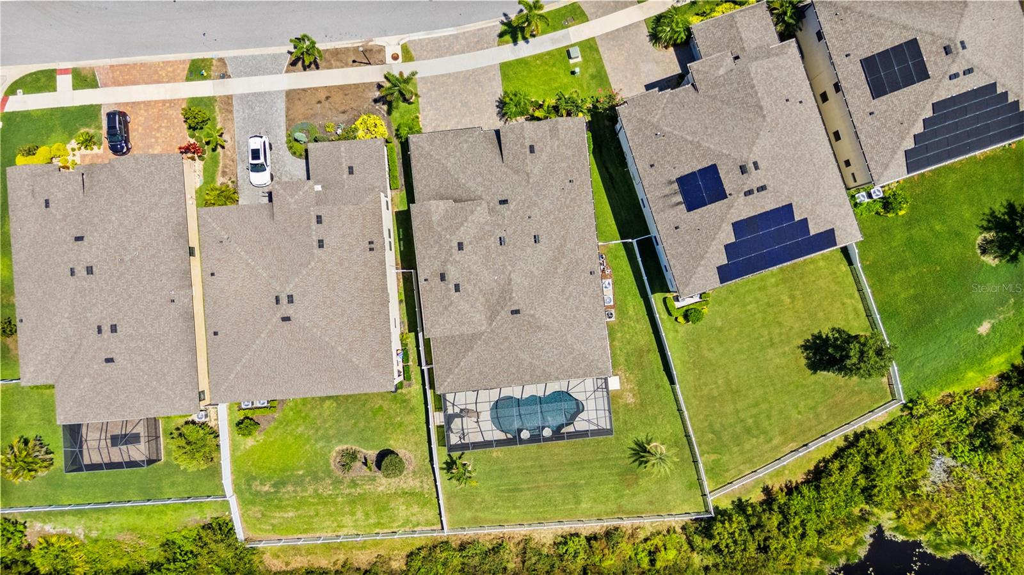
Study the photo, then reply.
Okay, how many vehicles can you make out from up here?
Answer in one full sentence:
I count 2 vehicles.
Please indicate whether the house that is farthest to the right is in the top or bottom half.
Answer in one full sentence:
The top half of the photo is where the house that is farthest to the right is.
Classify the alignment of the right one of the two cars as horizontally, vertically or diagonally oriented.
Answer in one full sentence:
The right one of the two cars is oriented vertically.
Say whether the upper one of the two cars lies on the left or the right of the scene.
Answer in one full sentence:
It is on the left.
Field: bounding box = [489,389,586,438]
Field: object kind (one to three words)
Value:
swimming pool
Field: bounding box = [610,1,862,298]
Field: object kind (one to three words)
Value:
house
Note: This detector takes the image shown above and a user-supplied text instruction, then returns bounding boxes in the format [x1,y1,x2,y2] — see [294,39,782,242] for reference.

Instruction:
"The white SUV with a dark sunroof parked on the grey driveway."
[245,134,272,188]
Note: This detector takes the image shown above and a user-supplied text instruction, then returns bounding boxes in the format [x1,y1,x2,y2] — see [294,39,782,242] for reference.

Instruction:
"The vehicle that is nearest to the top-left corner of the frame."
[102,110,132,159]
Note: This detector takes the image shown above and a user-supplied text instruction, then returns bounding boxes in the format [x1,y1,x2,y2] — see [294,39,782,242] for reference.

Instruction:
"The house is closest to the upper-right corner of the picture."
[788,0,1024,191]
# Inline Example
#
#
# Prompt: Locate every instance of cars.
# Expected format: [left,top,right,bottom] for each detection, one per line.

[245,134,272,188]
[102,110,132,159]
